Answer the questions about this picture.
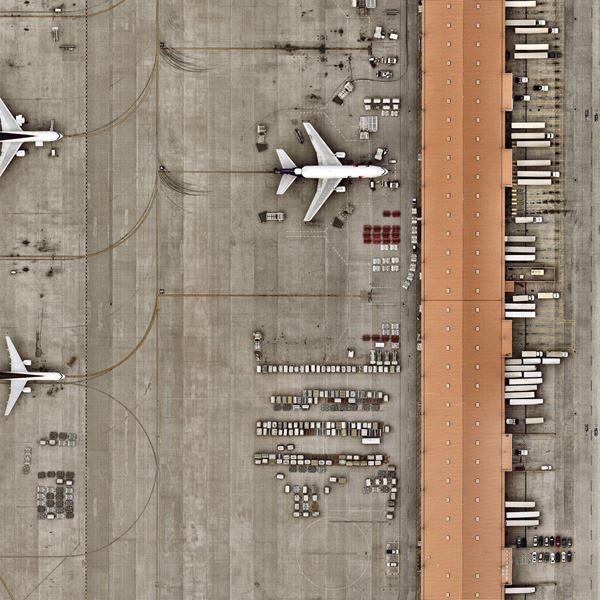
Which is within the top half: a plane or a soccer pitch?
plane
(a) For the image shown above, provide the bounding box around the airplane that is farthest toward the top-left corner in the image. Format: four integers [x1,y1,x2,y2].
[0,100,63,172]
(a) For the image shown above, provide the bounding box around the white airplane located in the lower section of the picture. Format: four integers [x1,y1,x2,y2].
[0,336,65,416]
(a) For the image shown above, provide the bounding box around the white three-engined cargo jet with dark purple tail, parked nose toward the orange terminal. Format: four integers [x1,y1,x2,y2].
[274,122,388,221]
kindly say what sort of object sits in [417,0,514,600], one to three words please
building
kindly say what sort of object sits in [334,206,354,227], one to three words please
work vehicle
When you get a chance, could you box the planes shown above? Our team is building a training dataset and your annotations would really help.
[274,122,388,221]
[0,100,63,172]
[0,336,65,416]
